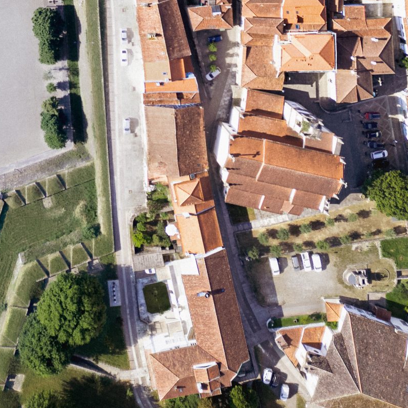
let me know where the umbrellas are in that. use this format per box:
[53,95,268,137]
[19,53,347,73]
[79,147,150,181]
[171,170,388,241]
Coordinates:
[164,223,177,235]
